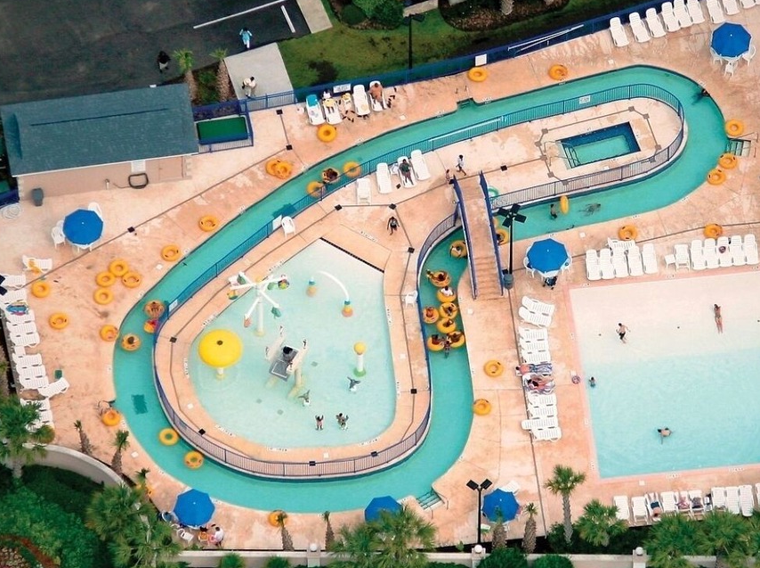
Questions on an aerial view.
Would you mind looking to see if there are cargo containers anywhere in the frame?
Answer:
No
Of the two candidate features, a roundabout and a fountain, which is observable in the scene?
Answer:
fountain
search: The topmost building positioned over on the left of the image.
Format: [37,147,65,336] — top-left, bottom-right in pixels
[0,84,198,200]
